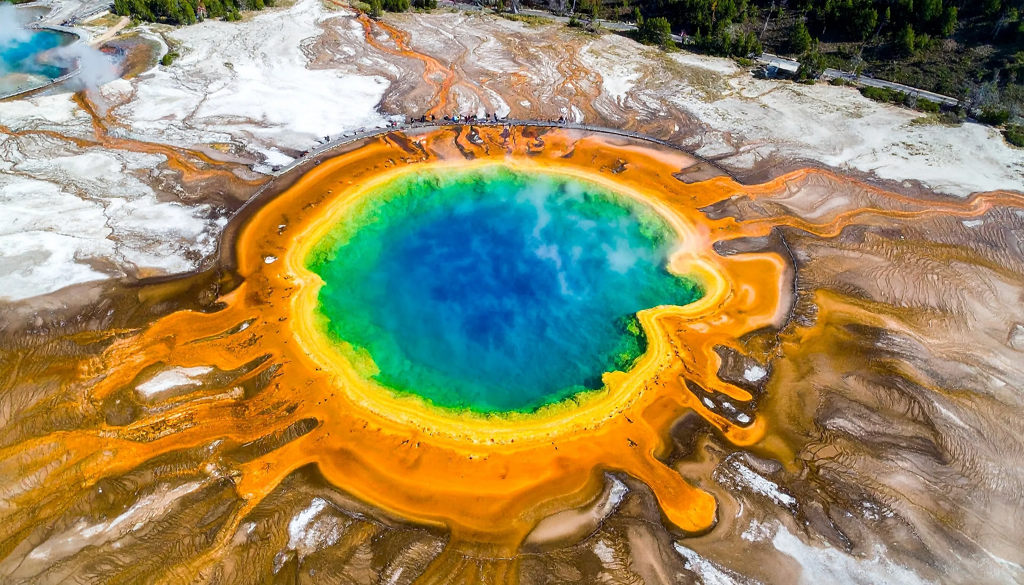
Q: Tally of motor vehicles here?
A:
0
